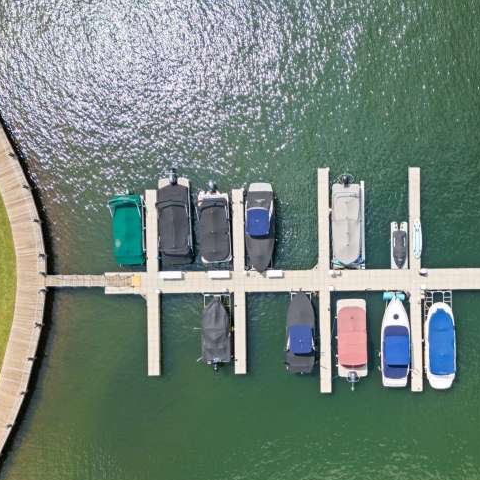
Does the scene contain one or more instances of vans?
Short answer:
No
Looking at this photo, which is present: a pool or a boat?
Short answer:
boat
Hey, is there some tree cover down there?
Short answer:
No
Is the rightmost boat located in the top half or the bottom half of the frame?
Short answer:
bottom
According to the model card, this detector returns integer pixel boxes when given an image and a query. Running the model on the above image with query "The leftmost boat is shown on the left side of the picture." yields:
[106,188,147,267]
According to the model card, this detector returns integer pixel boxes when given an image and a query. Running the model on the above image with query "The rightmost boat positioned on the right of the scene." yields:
[423,302,457,390]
